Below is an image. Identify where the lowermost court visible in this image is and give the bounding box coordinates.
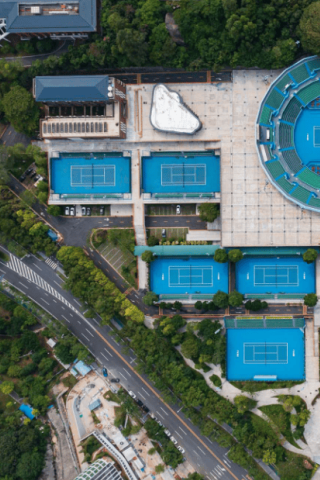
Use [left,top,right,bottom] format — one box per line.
[227,329,304,381]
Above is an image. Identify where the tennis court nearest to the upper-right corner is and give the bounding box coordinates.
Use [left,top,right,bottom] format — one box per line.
[143,156,218,192]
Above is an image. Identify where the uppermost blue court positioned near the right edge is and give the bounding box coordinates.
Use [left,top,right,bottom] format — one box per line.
[237,257,314,293]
